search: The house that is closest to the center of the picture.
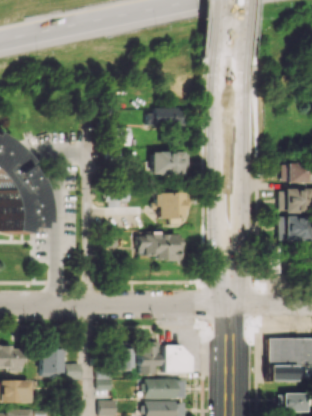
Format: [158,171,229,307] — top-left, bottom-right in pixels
[156,192,190,220]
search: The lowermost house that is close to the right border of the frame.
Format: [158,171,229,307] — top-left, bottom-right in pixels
[278,392,312,412]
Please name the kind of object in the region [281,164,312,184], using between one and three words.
house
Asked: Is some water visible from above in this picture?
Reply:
No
